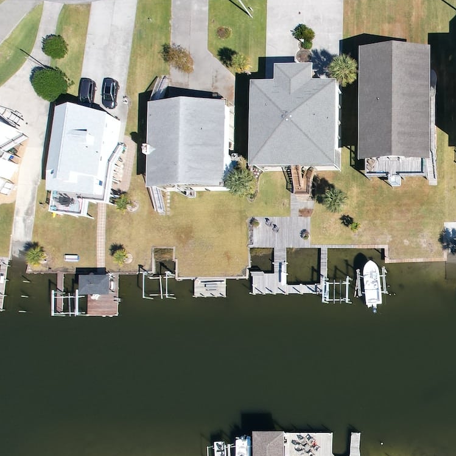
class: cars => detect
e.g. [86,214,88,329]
[78,73,97,107]
[101,77,120,110]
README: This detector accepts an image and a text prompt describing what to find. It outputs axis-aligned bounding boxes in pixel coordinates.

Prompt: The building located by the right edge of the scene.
[358,40,437,187]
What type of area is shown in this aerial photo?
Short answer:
residential area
